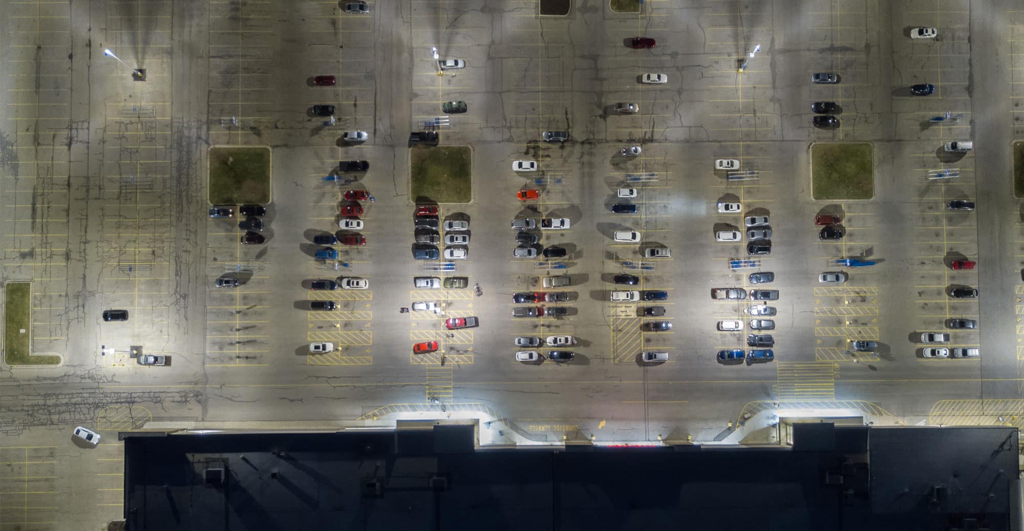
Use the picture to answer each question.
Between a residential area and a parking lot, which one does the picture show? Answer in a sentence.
It's a parking lot.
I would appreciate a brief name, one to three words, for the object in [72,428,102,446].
car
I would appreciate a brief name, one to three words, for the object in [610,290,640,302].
vehicle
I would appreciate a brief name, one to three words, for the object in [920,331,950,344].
vehicle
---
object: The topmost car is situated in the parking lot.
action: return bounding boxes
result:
[347,1,369,13]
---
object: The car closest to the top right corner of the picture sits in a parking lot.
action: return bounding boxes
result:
[910,27,937,39]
